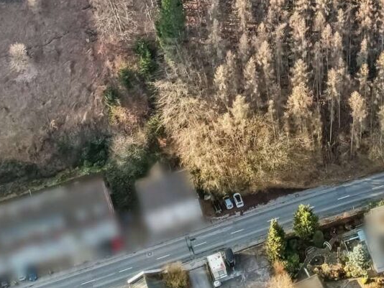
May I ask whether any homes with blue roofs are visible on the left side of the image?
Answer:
No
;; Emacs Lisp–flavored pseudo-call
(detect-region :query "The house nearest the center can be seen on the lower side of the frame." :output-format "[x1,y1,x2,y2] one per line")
[139,164,203,232]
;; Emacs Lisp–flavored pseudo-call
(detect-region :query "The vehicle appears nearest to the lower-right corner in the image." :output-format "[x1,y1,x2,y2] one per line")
[223,248,236,270]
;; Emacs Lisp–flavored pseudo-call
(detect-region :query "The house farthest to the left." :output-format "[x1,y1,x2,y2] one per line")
[0,175,123,275]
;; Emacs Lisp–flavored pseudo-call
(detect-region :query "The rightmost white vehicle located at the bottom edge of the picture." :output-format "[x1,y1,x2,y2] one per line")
[210,249,223,287]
